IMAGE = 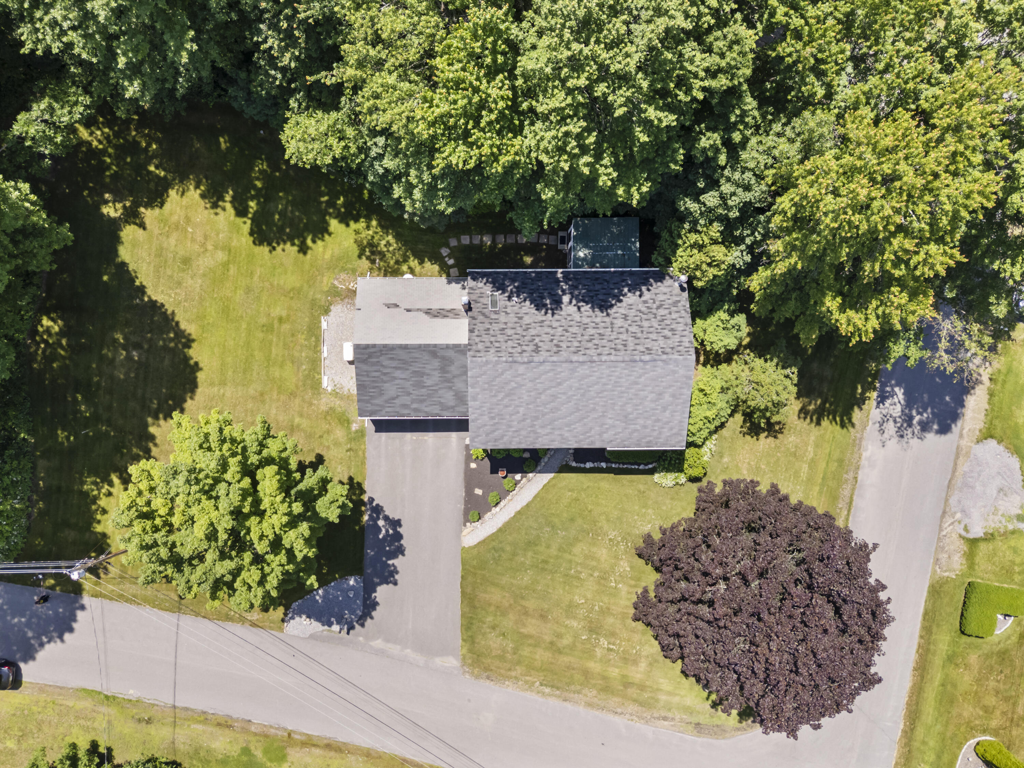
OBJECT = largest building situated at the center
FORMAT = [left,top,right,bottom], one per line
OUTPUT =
[353,266,695,451]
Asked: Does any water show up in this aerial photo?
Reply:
No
